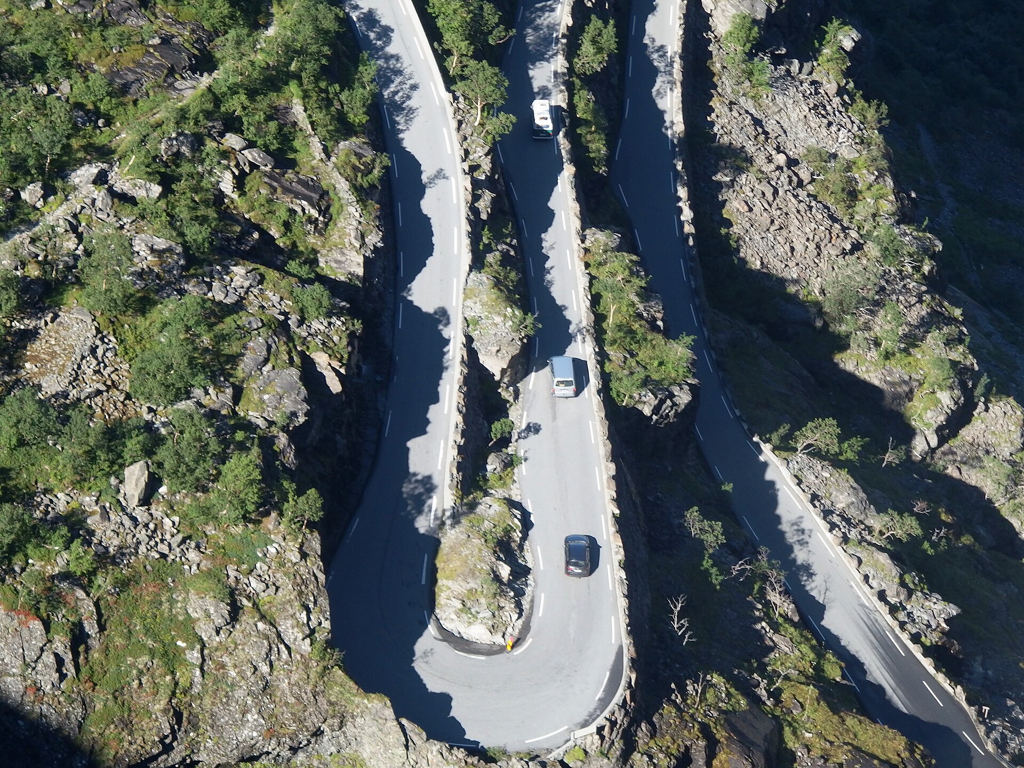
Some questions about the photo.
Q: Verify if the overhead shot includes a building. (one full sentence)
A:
No, there isn't any building down there.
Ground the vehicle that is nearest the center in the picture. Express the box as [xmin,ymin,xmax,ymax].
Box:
[547,353,576,393]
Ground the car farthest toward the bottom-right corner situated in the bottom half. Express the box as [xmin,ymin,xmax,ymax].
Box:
[559,532,592,573]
